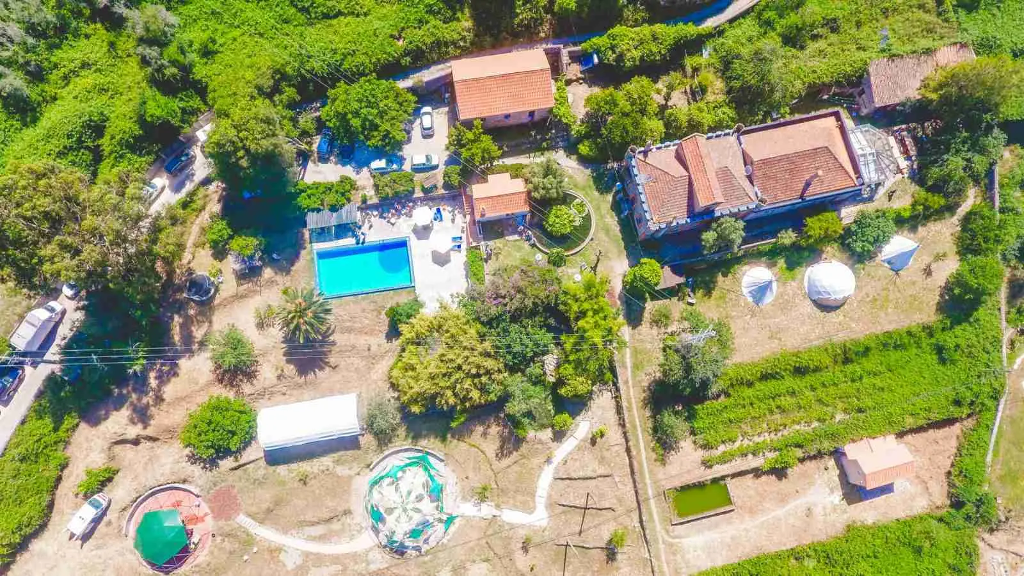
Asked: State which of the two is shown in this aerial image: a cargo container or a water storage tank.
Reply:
water storage tank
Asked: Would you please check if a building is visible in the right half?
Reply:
Yes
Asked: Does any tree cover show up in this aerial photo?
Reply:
Yes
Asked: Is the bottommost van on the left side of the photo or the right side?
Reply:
left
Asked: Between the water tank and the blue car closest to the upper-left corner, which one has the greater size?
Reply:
the water tank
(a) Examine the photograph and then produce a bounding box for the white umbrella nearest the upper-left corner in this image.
[413,207,433,227]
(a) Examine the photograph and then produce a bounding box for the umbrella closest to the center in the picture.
[430,231,451,255]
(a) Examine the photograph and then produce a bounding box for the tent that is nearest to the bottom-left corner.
[257,393,363,449]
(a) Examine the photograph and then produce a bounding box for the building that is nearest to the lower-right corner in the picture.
[842,435,916,505]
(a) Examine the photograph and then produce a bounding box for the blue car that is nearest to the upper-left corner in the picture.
[163,147,197,176]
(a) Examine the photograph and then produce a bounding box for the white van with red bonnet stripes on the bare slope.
[65,492,113,538]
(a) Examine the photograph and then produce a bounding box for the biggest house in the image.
[620,109,864,241]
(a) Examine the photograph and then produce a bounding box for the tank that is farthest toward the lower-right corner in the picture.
[665,476,736,524]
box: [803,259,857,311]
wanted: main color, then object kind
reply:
white tent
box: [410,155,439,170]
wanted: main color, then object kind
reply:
white car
